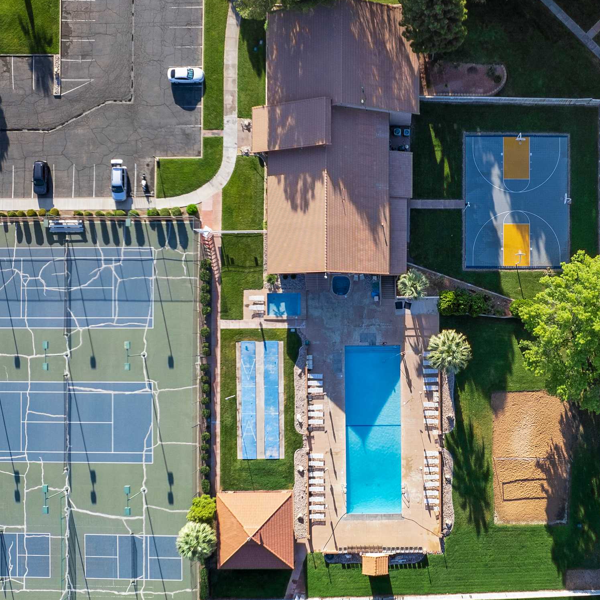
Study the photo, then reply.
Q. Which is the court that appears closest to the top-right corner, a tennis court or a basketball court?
basketball court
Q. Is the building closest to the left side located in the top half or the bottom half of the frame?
bottom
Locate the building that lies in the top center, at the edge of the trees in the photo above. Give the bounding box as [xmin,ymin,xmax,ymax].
[252,0,419,277]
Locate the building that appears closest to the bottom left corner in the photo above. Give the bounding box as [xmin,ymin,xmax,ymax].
[215,490,295,570]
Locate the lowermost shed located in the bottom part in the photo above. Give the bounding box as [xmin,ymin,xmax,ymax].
[362,551,399,576]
